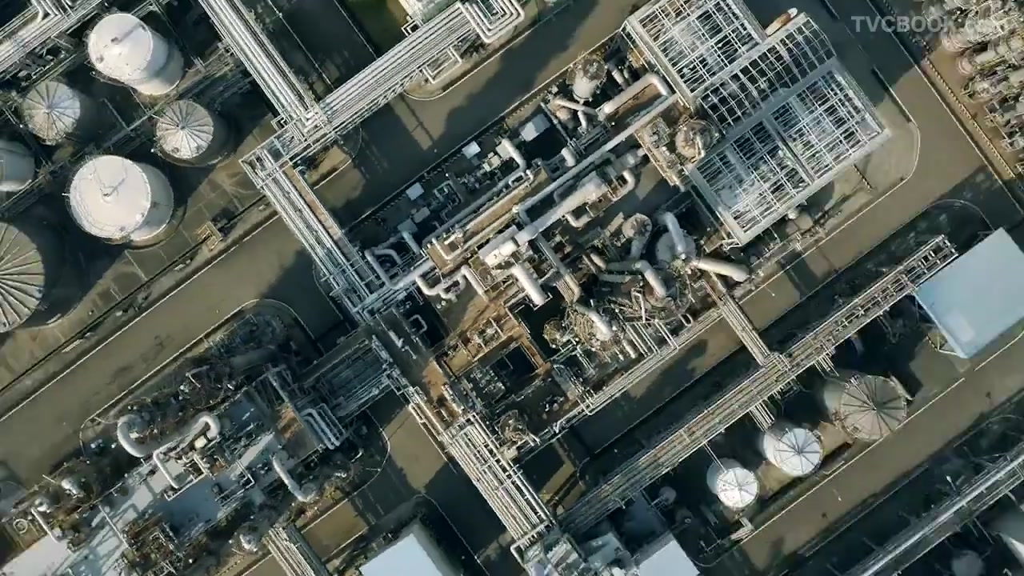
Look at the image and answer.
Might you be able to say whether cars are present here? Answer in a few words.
No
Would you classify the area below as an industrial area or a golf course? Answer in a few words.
industrial area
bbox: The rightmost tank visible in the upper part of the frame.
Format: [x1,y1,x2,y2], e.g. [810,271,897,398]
[153,100,237,172]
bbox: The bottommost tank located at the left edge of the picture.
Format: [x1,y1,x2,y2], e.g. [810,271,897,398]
[0,221,70,335]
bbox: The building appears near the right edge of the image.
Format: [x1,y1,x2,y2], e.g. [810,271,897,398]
[906,229,1024,356]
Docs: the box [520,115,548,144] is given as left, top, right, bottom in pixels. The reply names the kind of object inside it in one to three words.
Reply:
shed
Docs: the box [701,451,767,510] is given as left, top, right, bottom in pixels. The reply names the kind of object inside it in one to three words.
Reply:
storage tank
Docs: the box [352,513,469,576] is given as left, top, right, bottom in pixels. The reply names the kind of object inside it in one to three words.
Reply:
building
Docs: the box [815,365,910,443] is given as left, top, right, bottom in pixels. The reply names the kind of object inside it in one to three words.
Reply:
storage tank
